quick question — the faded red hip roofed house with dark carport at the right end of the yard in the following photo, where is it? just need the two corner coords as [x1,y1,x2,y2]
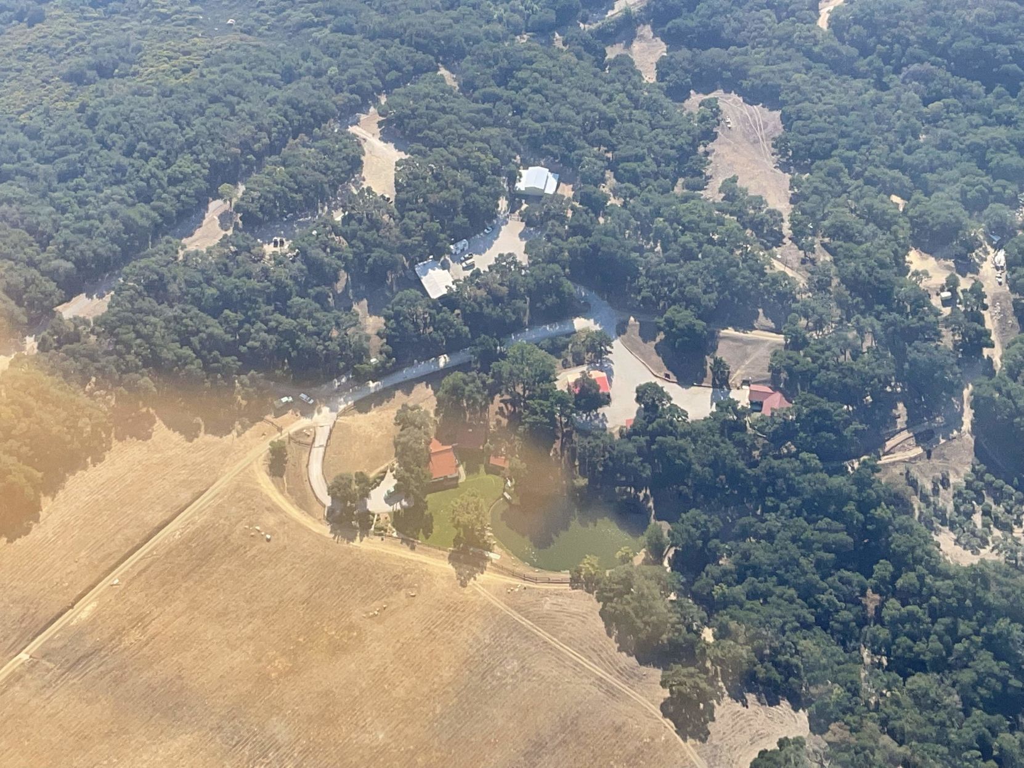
[744,385,796,420]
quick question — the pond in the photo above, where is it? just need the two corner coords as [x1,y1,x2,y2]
[490,486,650,572]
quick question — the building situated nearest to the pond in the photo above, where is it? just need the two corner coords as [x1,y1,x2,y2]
[486,454,512,475]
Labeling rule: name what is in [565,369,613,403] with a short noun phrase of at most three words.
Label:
house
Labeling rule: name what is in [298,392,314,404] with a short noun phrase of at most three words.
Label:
vehicle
